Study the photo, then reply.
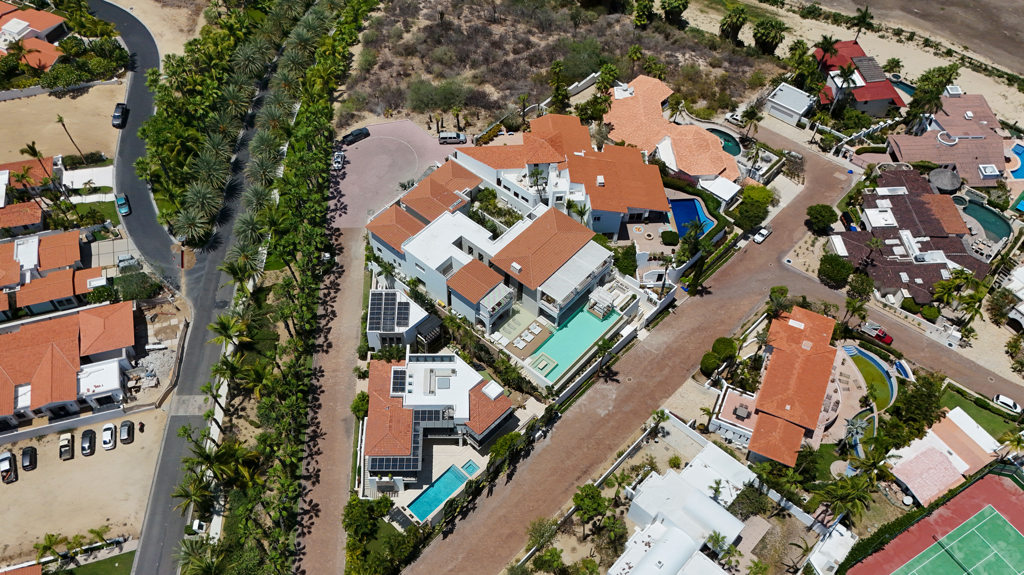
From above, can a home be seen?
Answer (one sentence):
Yes, this view includes a home.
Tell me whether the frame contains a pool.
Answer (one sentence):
Yes, the picture does show a pool.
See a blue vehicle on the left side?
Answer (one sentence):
Yes, on the left side there is a blue vehicle.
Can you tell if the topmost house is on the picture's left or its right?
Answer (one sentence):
It is on the left.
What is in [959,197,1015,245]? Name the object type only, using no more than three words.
swimming pool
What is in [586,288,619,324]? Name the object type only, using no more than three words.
building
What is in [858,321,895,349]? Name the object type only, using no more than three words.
truck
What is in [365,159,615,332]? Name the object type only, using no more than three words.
house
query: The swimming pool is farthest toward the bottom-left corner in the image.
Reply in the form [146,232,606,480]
[407,461,471,524]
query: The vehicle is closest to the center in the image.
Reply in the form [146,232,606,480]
[440,132,466,144]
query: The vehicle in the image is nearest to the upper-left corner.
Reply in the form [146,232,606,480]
[112,106,127,125]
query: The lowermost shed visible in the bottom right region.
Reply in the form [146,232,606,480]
[807,523,858,575]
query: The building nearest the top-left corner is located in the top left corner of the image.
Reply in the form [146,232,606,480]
[0,2,67,76]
